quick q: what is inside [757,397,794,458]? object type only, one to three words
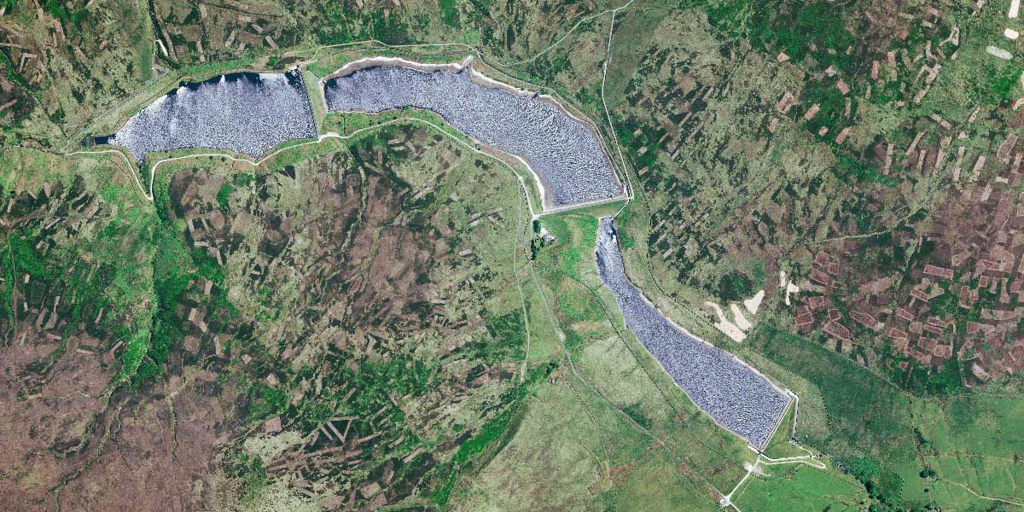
dam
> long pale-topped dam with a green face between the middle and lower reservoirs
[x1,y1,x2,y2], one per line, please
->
[542,195,630,225]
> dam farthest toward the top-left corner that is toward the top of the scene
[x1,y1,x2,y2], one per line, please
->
[299,70,331,138]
